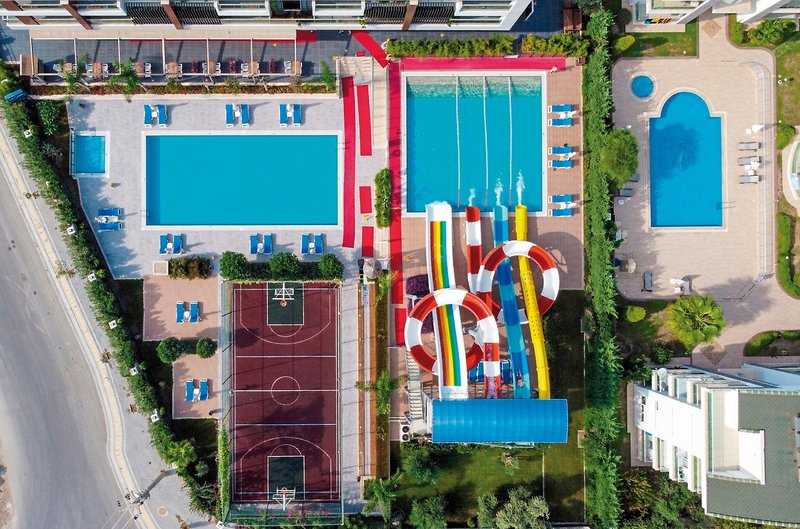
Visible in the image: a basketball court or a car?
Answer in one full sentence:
This aerial view contains a basketball court.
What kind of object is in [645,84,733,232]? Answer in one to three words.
swimming pool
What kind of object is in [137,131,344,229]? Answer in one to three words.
swimming pool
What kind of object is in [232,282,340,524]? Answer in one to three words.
basketball court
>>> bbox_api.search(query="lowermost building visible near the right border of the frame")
[634,355,800,529]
